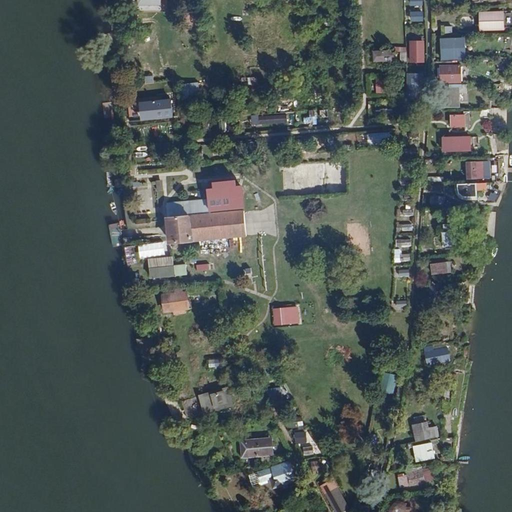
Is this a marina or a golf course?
marina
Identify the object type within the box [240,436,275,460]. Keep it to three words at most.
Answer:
house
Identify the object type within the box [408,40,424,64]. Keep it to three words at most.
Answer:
house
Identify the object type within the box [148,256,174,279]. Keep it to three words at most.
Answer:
shed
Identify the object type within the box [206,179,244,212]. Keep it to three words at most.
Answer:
building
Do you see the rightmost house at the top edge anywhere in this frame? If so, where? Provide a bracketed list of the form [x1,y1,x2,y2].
[478,11,506,32]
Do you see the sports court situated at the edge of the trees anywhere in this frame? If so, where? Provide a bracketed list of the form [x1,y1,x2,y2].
[282,163,347,196]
